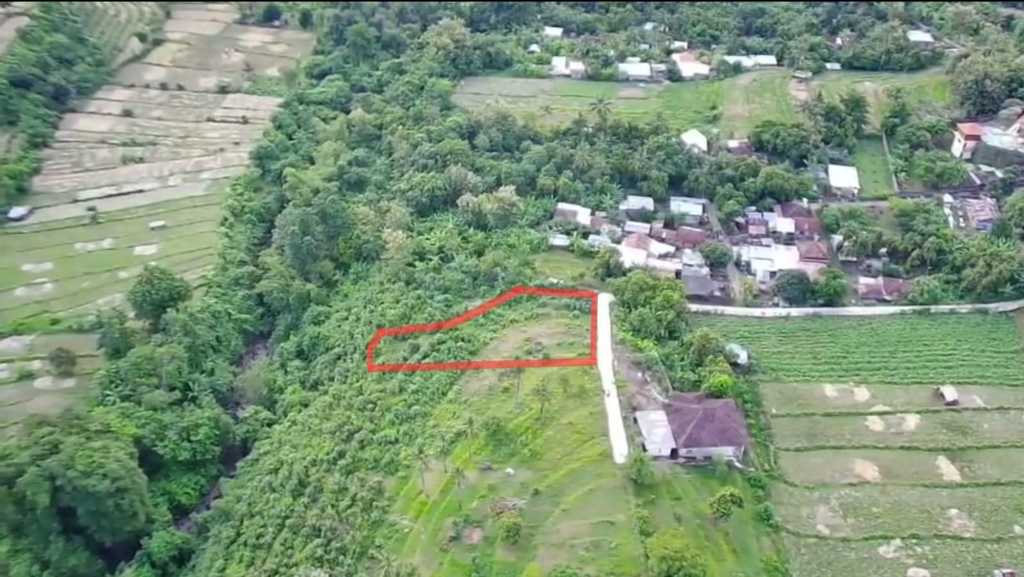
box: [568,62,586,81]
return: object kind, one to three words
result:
house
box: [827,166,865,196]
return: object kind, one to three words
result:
house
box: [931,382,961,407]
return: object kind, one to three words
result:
shed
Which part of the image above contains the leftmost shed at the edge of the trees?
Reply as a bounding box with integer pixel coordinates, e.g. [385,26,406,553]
[3,204,35,226]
